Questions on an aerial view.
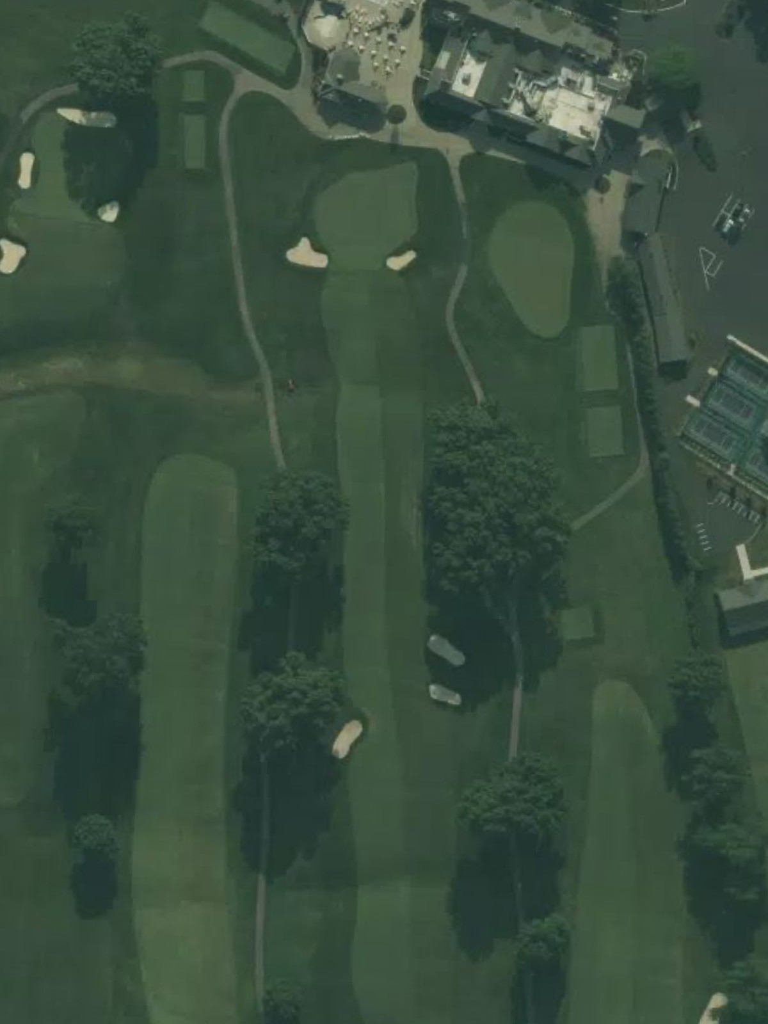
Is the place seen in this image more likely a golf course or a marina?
golf course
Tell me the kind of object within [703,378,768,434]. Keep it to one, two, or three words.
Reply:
tennis court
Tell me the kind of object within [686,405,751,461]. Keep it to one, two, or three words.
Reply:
tennis court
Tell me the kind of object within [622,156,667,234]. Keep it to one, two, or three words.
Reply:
building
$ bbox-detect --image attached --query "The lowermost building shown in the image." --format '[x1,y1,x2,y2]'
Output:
[720,583,768,630]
